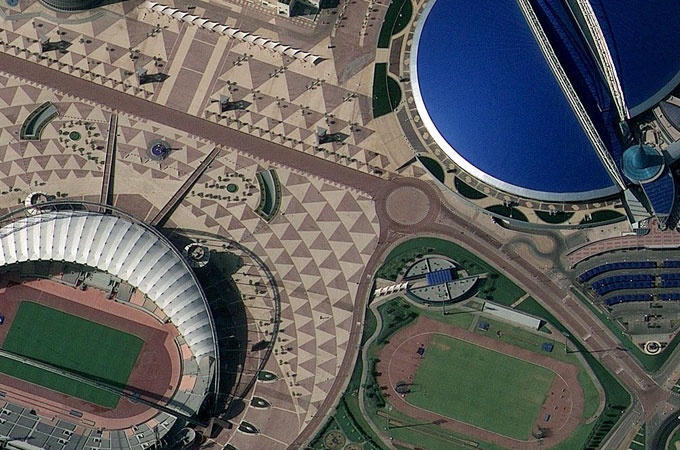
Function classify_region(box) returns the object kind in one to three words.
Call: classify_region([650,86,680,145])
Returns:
building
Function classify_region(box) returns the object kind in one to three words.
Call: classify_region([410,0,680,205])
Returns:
building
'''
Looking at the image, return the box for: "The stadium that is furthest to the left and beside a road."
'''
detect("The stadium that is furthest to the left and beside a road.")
[0,199,228,450]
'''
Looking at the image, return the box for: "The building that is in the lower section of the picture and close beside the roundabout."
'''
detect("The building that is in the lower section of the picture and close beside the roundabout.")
[403,258,482,309]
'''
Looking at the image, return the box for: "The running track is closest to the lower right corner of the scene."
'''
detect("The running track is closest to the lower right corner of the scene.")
[377,317,586,450]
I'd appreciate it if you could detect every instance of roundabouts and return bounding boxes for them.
[375,171,442,238]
